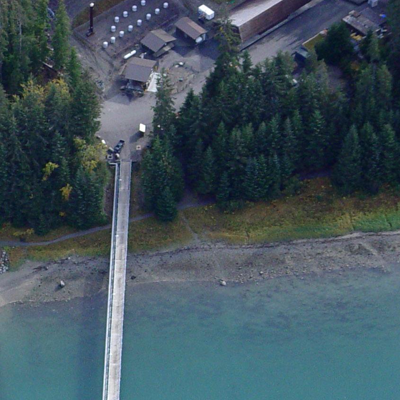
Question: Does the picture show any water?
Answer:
Yes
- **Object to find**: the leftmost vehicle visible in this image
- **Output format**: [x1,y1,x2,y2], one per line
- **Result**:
[112,140,125,154]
